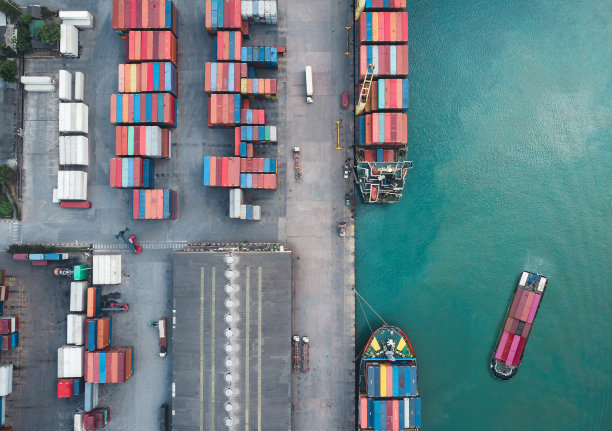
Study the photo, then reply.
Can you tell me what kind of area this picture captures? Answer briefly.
port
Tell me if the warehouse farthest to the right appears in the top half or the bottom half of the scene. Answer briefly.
bottom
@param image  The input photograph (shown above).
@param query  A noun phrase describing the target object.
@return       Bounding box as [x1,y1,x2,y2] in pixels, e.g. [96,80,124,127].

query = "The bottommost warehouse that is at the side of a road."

[170,249,292,431]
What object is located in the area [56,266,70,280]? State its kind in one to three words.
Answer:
vehicle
